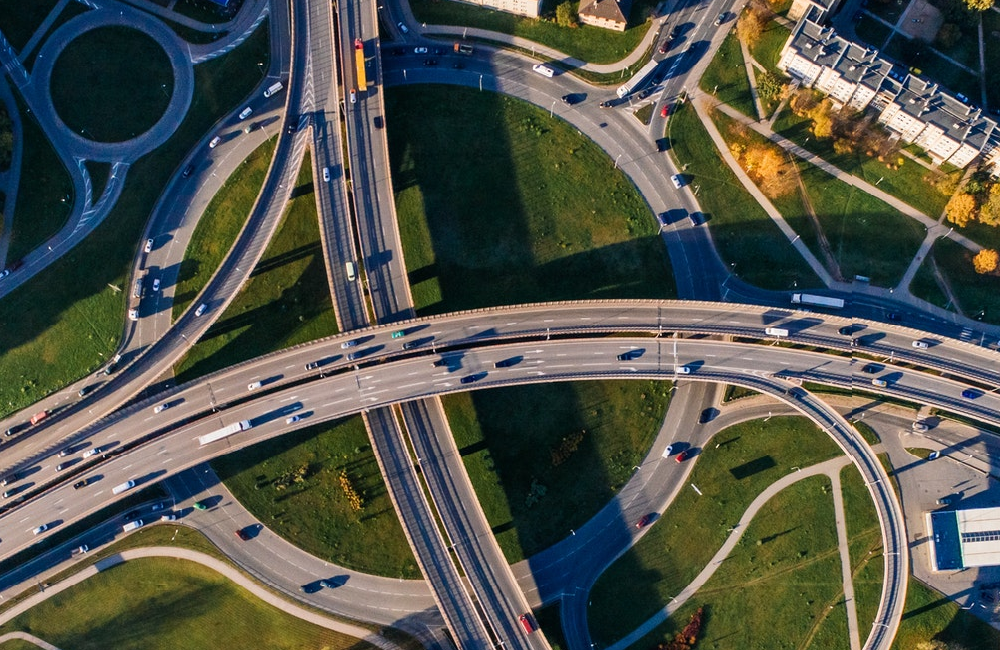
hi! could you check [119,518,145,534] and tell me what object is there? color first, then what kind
white vehicle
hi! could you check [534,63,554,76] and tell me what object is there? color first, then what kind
white vehicle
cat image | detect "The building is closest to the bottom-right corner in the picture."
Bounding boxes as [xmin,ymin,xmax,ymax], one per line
[923,508,1000,569]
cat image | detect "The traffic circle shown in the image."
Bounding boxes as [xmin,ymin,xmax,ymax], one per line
[30,8,193,161]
